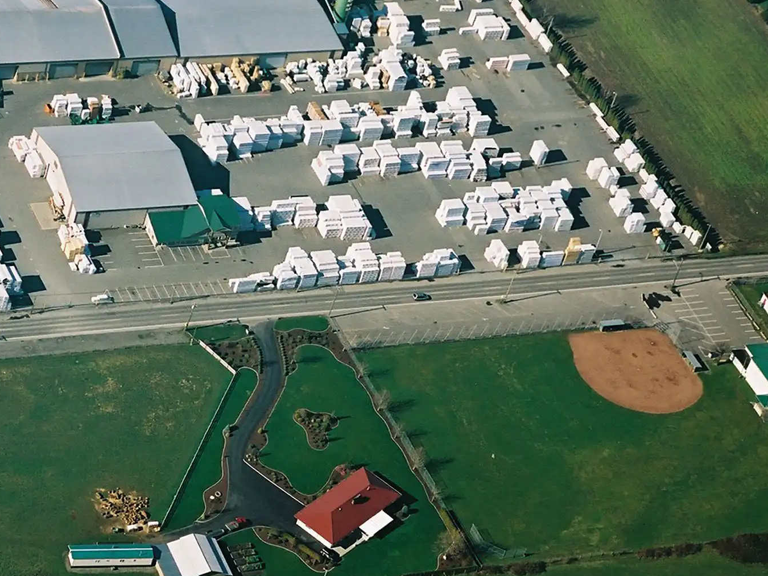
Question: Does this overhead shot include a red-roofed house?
Yes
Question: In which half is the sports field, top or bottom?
bottom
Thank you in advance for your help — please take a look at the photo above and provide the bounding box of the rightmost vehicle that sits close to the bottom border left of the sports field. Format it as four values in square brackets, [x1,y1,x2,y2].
[320,545,345,561]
